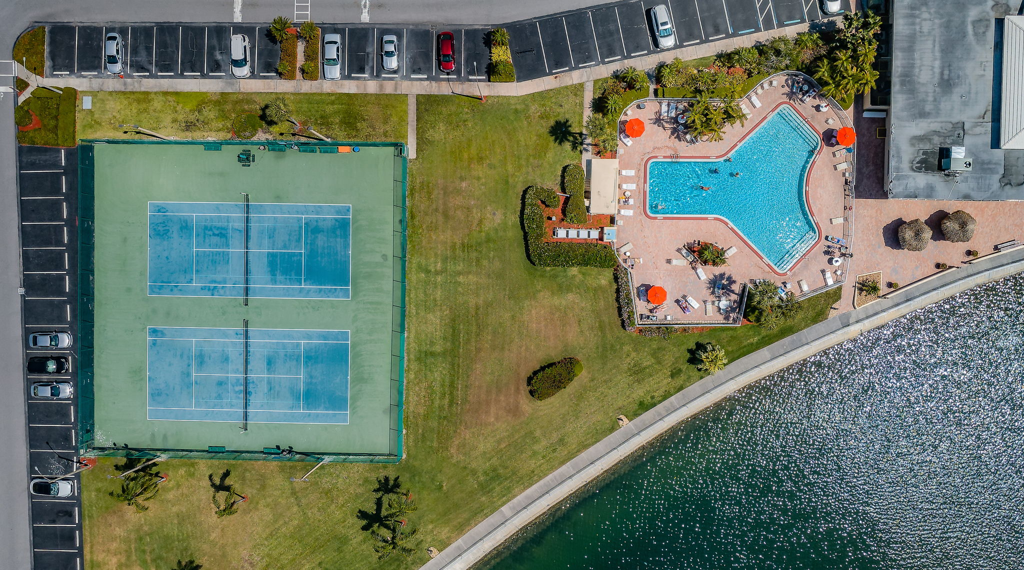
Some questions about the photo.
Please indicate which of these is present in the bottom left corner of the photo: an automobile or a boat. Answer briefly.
automobile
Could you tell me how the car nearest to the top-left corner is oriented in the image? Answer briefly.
from top to bottom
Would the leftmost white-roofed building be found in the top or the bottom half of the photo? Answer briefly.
top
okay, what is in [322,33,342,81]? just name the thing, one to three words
car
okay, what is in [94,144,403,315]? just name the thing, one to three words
tennis court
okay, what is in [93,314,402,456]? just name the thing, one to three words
tennis court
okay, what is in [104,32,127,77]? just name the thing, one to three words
car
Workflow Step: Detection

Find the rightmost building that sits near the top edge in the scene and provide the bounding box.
[853,0,1024,199]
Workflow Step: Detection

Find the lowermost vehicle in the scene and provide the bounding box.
[31,477,76,498]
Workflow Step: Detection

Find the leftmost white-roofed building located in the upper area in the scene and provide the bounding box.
[587,159,619,215]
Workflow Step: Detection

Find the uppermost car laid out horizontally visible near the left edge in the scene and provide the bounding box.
[29,331,75,350]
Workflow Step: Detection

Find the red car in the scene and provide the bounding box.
[436,30,456,74]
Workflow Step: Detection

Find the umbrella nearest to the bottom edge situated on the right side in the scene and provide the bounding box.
[647,285,667,305]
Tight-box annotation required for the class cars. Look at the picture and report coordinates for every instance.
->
[31,381,76,400]
[29,331,75,350]
[820,0,838,18]
[31,477,76,498]
[104,32,127,77]
[651,4,674,50]
[436,30,456,74]
[27,356,73,375]
[381,33,399,73]
[231,34,253,80]
[322,33,342,81]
